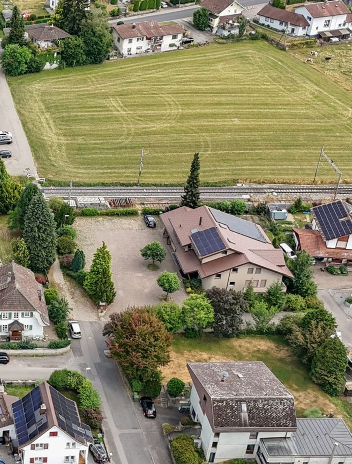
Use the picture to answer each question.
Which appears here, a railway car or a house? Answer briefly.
house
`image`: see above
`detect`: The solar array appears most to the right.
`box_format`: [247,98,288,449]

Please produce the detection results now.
[318,196,352,243]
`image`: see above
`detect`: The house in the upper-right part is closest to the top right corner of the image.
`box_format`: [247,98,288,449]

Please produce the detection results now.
[289,0,352,36]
